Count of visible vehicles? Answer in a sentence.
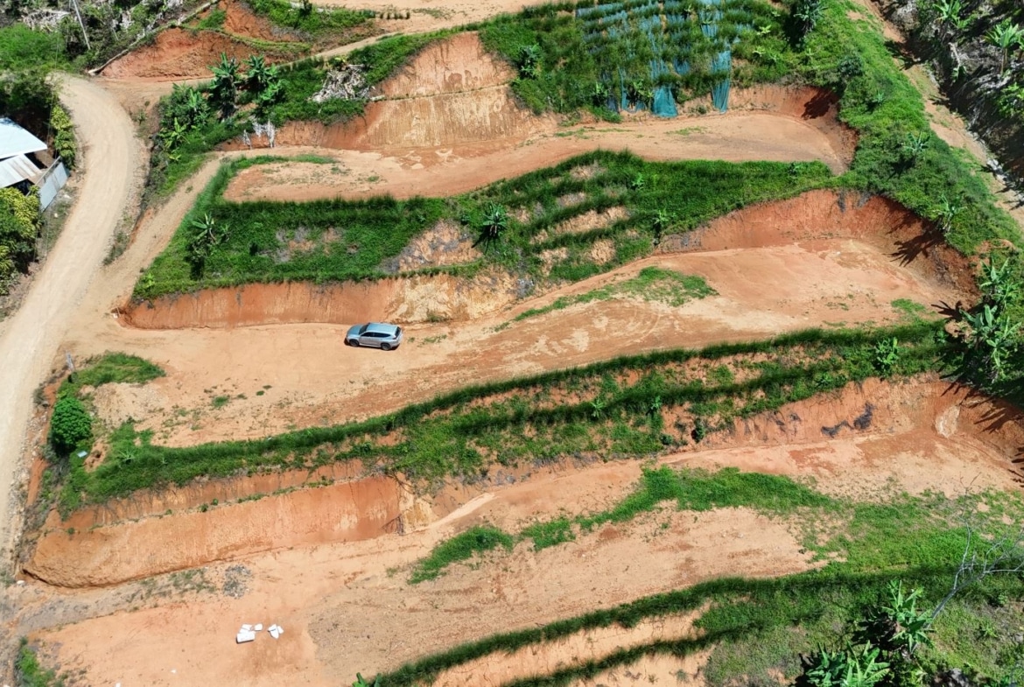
I count just 1 vehicle.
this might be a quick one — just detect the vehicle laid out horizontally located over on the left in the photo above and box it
[344,319,402,347]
